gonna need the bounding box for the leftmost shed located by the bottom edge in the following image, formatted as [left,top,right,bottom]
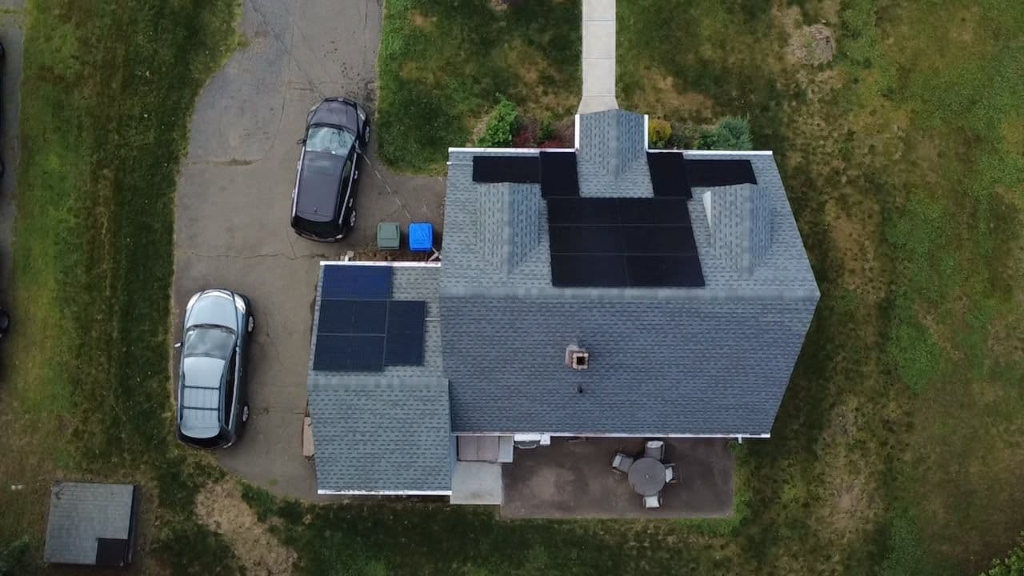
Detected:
[44,482,139,565]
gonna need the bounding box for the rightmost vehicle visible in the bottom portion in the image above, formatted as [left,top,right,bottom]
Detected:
[172,289,255,452]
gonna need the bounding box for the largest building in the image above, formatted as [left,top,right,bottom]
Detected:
[439,110,820,445]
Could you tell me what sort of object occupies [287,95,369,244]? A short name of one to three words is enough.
car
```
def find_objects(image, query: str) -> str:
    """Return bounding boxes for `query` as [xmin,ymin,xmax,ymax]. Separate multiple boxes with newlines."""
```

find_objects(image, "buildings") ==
[44,482,139,565]
[439,110,820,445]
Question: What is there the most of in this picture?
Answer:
grass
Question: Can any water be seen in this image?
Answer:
No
